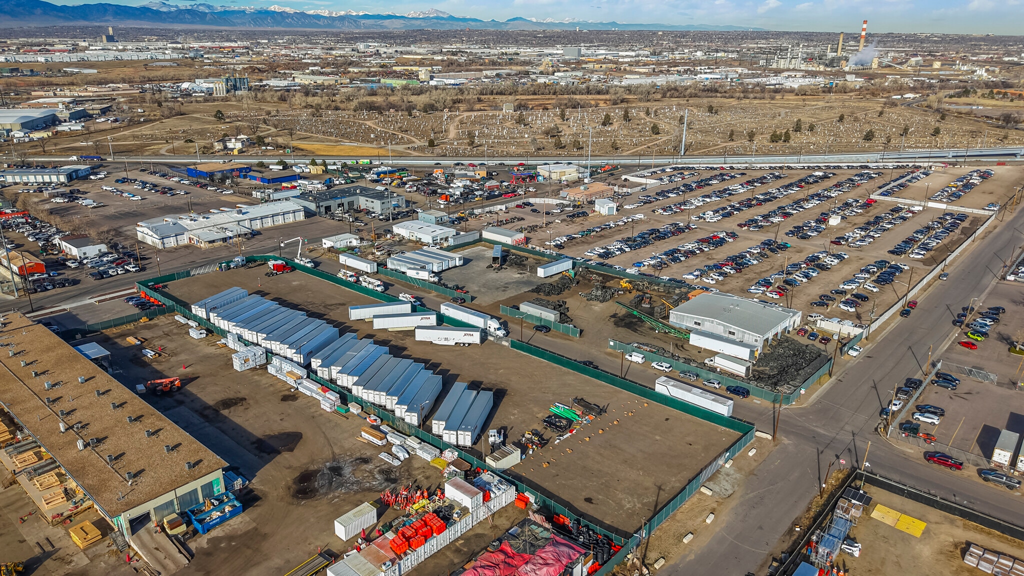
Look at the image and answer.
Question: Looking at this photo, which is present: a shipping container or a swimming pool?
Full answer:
The one in the frame is a shipping container.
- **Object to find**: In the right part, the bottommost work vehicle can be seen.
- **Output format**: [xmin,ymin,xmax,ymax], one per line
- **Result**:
[838,535,862,554]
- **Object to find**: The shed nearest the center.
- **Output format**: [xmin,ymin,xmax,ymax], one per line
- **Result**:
[484,226,526,244]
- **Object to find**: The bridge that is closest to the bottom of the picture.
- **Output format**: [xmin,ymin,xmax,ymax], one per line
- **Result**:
[862,140,1024,160]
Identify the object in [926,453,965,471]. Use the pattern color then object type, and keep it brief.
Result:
red vehicle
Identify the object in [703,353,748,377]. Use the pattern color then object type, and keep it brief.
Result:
white truck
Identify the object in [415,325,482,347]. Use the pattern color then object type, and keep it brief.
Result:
white trailer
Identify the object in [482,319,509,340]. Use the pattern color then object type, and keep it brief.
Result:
white truck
